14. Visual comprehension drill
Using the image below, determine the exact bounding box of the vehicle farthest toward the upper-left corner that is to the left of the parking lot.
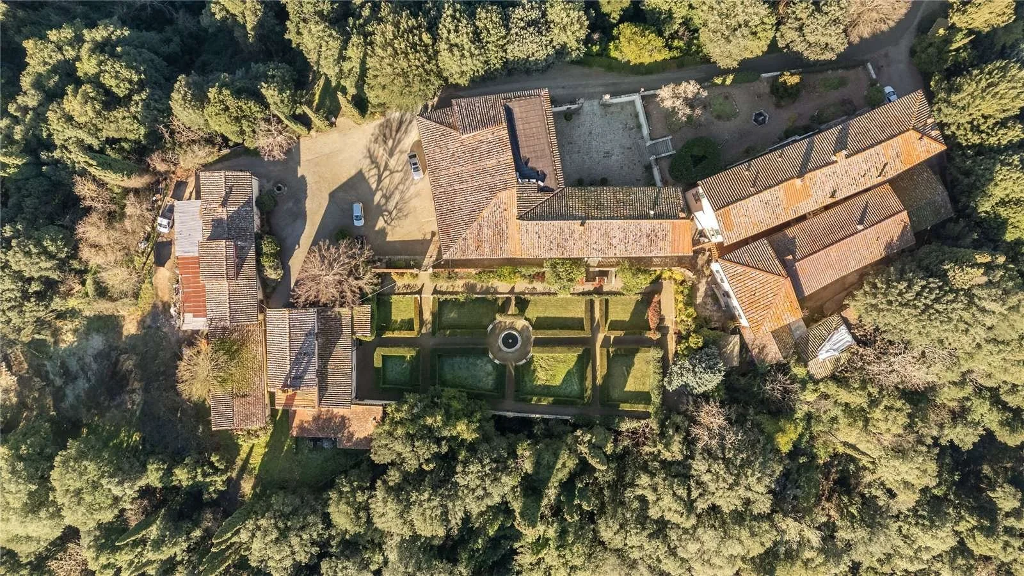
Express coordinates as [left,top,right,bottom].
[154,203,173,232]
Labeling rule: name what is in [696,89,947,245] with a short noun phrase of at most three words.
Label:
house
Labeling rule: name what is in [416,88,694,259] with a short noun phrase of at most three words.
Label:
house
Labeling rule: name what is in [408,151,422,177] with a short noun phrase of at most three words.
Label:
car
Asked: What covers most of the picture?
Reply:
trees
